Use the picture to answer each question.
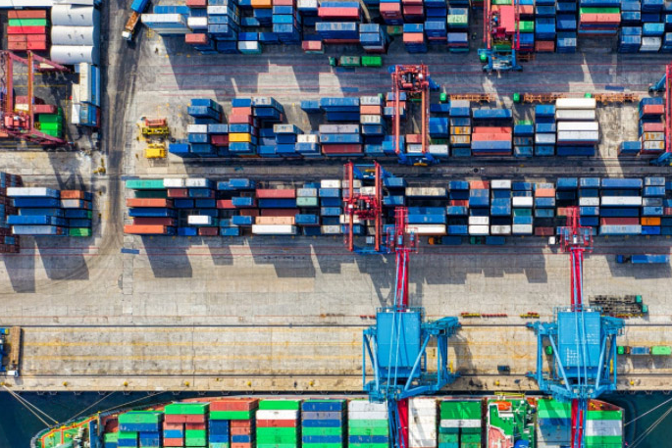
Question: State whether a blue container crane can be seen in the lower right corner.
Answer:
Yes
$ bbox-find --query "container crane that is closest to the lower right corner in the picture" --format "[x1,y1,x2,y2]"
[523,207,621,448]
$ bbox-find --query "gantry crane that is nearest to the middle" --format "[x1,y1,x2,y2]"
[343,162,396,252]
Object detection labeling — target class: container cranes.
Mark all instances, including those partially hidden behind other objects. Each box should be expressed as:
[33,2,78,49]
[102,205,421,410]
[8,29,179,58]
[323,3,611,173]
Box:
[392,62,440,162]
[360,207,464,448]
[343,162,396,252]
[651,57,672,161]
[2,49,82,149]
[523,207,621,448]
[482,0,522,67]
